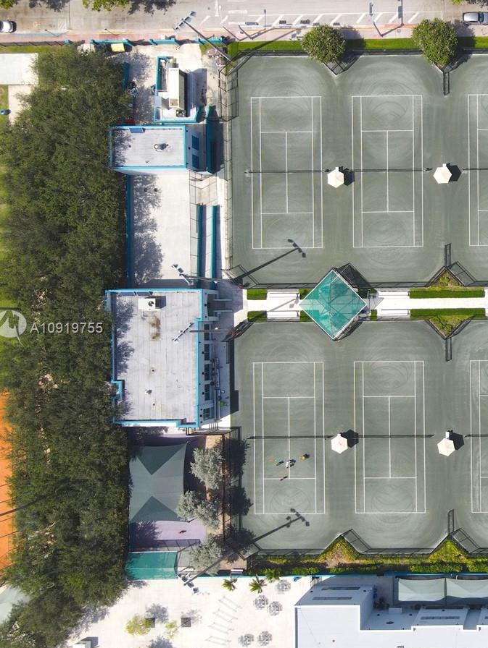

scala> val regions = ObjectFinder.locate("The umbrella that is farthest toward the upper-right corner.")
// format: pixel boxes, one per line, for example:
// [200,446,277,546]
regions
[434,165,453,183]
